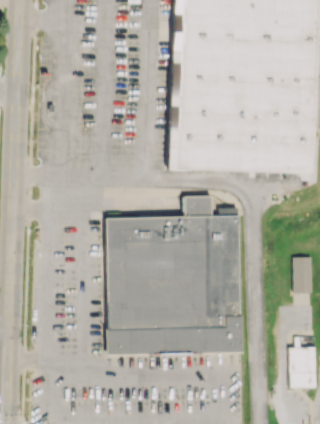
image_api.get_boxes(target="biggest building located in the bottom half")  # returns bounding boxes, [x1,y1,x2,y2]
[106,195,242,356]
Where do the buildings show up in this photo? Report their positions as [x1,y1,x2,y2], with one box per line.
[106,195,242,356]
[292,257,312,293]
[168,0,320,183]
[288,336,316,390]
